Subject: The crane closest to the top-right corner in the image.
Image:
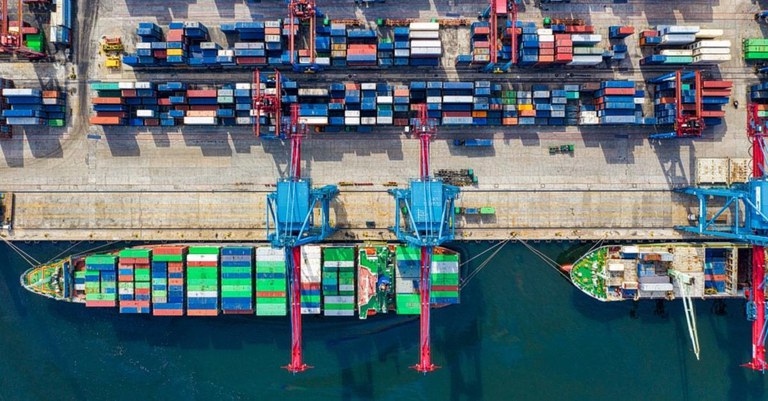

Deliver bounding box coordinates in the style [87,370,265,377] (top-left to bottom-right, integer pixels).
[646,69,705,141]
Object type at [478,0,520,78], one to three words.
container crane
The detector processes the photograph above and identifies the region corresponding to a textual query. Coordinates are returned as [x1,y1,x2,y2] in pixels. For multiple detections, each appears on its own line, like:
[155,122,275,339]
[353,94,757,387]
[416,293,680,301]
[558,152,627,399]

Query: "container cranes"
[286,0,324,78]
[265,103,343,378]
[384,103,455,378]
[478,0,520,78]
[672,103,768,378]
[0,0,52,58]
[252,69,293,141]
[646,69,705,141]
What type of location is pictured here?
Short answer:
port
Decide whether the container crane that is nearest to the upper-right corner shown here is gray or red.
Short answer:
red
